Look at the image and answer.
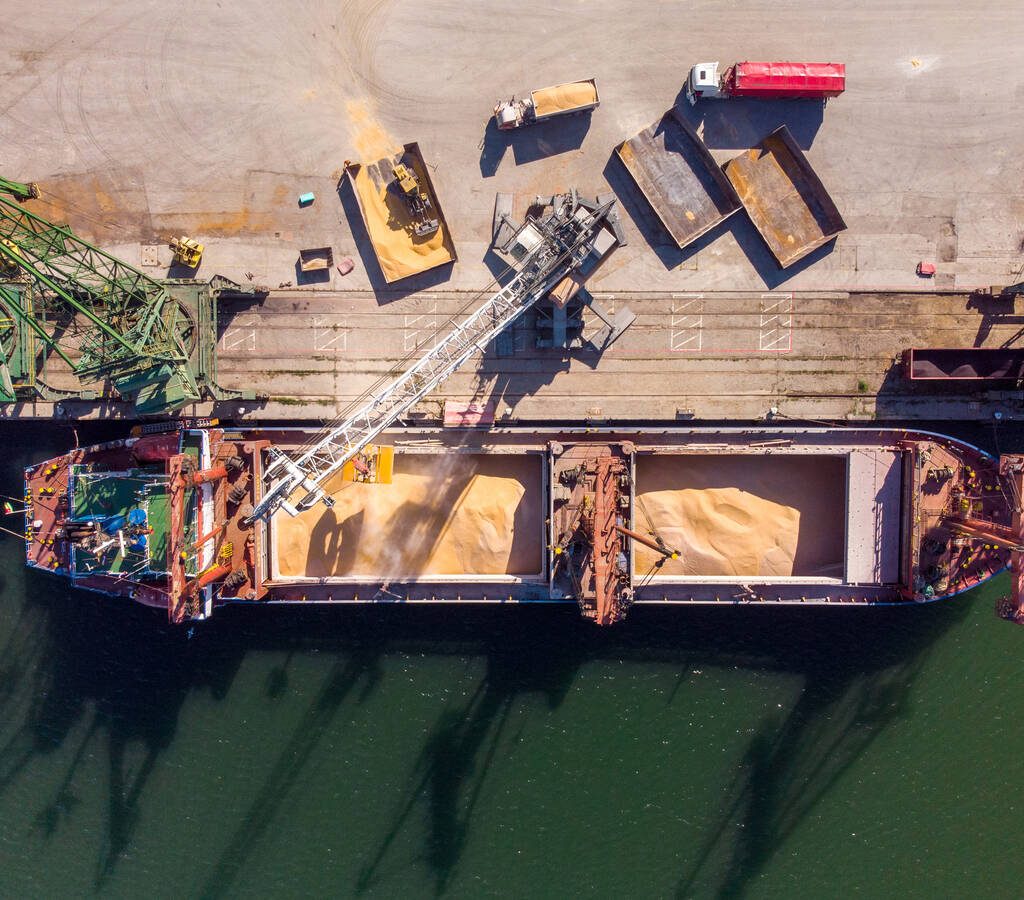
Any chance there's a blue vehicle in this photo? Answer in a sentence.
No, the picture doesn't show any blue vehicle.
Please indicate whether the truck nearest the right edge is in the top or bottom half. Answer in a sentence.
The truck nearest the right edge is in the top half of the image.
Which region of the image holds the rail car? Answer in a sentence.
The rail car appears toward the right of the photo.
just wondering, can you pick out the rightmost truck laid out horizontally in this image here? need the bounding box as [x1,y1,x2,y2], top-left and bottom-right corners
[683,61,846,102]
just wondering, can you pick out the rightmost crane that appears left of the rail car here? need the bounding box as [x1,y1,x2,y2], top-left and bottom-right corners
[244,161,636,527]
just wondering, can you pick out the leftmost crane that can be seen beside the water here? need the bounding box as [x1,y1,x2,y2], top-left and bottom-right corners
[0,278,98,420]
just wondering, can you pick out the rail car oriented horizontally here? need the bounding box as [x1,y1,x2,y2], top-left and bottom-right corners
[891,347,1024,382]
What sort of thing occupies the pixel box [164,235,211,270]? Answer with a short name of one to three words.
work vehicle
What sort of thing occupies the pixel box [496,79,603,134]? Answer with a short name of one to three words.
truck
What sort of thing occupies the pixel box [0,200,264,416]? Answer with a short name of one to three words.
crane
